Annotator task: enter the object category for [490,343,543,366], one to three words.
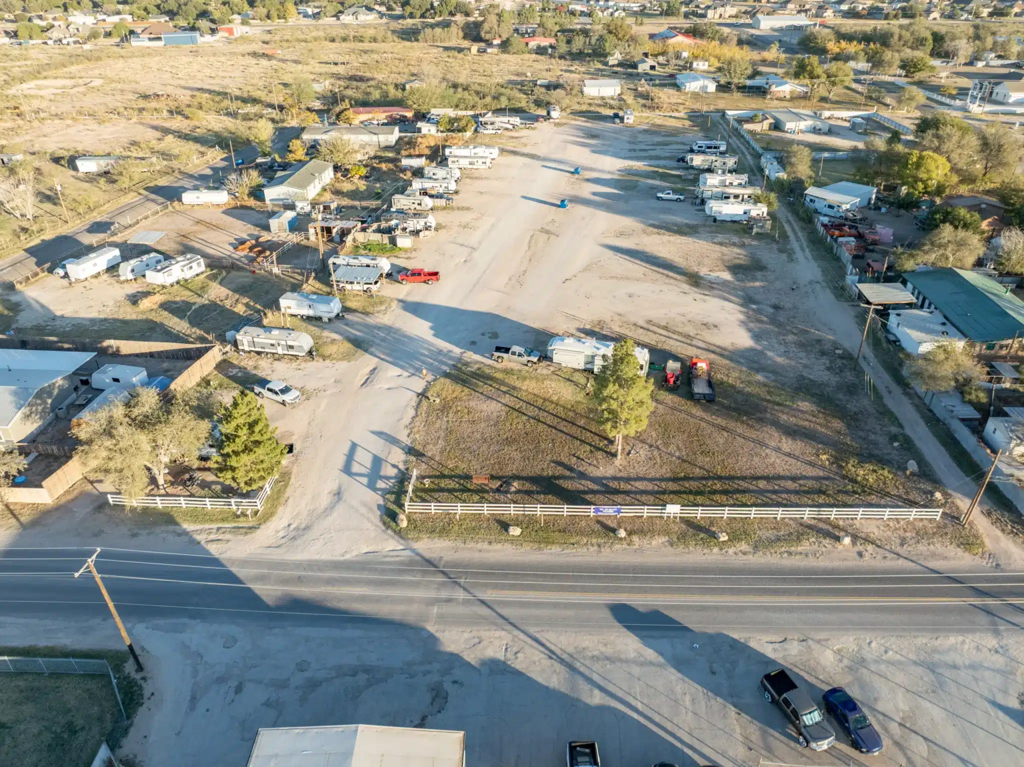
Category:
truck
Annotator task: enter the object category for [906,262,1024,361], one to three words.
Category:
building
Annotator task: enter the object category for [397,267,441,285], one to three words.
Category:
vehicle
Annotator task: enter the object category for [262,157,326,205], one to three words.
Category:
house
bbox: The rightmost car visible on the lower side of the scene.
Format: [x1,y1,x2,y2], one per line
[819,684,887,761]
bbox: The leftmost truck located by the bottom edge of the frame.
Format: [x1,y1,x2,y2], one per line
[567,742,601,767]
